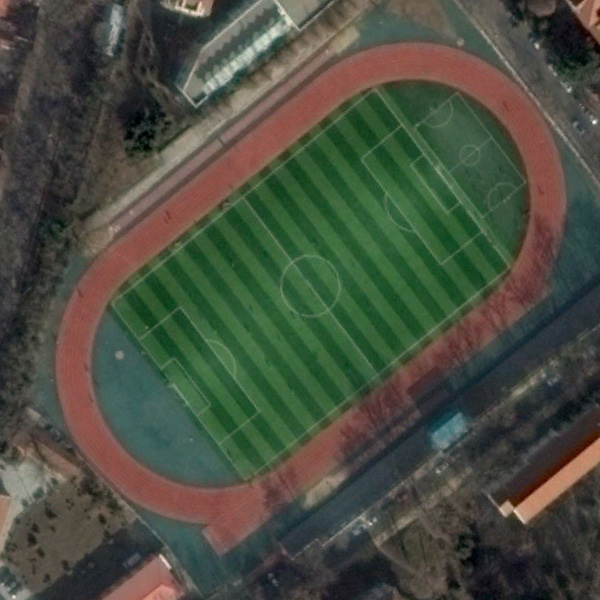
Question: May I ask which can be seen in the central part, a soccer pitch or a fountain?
soccer pitch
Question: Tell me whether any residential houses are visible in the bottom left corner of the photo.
Yes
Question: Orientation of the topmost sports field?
at an angle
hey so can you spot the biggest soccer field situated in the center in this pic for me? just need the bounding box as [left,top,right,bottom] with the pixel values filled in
[107,86,515,481]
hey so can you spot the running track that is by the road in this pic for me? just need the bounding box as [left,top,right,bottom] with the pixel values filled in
[51,40,570,558]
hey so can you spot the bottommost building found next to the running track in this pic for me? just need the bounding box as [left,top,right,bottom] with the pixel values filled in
[95,553,195,600]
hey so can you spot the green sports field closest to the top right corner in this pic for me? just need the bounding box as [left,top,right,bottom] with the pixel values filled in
[388,83,530,257]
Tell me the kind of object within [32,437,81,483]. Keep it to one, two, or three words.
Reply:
house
